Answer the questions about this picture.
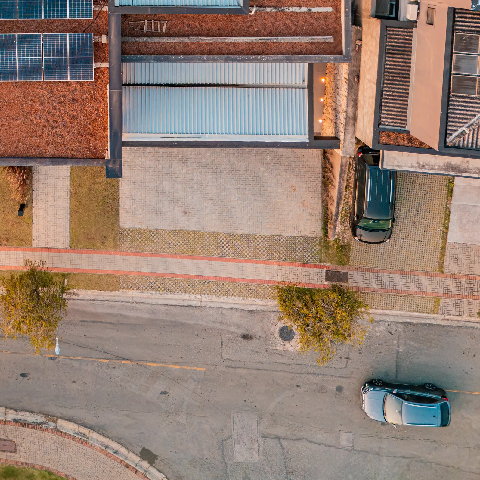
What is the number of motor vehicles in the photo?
2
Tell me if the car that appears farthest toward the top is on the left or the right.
right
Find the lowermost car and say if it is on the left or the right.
right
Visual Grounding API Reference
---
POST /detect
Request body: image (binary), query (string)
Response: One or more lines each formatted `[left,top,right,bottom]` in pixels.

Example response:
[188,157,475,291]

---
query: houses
[0,0,352,178]
[354,0,480,178]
